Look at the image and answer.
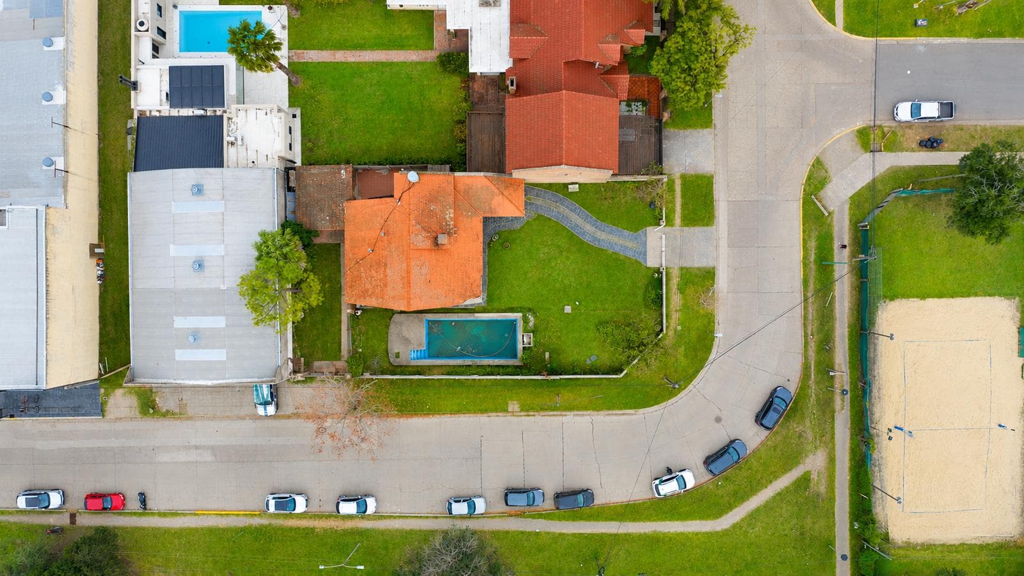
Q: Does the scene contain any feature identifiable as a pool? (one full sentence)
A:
Yes, a pool is visible in the scene.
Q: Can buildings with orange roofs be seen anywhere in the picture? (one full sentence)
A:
Yes, this view includes a building with an orange roof.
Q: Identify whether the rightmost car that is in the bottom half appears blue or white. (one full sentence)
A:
From above, the rightmost car that is in the bottom half appears blue.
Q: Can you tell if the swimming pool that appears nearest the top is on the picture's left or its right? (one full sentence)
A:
It is on the left.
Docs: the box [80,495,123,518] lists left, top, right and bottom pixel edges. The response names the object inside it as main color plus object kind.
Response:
red car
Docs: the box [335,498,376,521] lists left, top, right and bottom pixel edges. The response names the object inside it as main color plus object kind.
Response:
white car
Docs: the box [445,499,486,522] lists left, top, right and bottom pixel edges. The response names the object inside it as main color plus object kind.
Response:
white car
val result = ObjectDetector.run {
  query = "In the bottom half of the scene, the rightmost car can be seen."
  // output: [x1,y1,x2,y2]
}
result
[757,387,794,435]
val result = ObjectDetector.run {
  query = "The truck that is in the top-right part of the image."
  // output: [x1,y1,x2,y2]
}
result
[895,97,957,122]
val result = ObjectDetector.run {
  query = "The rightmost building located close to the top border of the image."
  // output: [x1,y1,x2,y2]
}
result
[506,0,653,181]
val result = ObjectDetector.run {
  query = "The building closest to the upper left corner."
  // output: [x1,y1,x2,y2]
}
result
[0,0,99,215]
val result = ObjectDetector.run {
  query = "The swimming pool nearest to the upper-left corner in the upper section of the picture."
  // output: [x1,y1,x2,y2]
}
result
[174,5,266,56]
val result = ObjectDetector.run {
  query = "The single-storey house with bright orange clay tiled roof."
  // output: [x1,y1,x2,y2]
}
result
[346,171,525,311]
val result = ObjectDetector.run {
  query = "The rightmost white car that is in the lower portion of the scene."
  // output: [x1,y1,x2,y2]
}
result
[653,472,697,501]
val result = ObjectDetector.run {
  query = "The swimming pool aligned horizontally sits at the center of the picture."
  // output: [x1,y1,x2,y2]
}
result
[389,313,523,365]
